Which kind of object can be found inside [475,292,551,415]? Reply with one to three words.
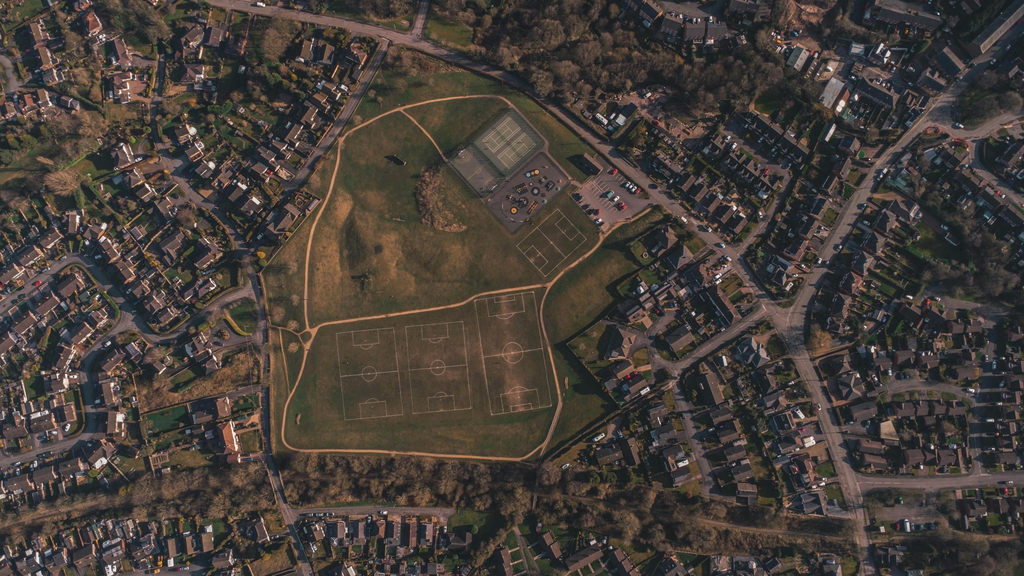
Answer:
soccer field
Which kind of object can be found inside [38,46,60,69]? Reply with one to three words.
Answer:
house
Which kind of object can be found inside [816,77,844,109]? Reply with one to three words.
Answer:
building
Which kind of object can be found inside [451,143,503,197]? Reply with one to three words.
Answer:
sports court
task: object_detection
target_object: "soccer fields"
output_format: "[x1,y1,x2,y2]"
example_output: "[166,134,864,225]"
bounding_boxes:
[336,328,403,420]
[475,292,551,415]
[406,321,471,414]
[517,209,587,277]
